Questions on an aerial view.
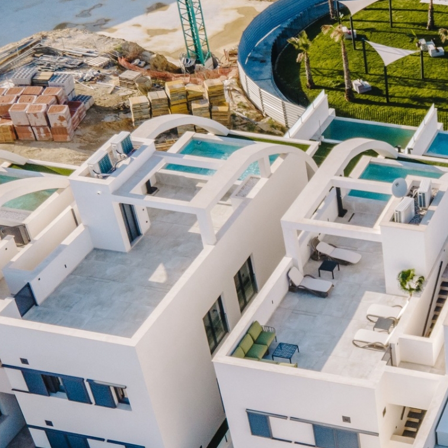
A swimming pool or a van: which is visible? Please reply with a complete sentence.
The image shows a swimming pool.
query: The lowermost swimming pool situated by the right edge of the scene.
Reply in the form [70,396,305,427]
[350,161,447,198]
